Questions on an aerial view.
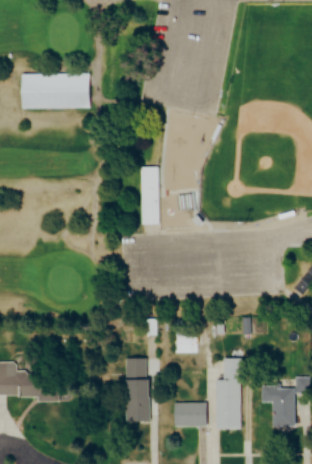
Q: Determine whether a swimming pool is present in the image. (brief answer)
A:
No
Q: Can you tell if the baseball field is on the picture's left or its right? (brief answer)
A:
right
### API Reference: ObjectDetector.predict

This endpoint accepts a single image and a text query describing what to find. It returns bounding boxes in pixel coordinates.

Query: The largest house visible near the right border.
[262,384,297,428]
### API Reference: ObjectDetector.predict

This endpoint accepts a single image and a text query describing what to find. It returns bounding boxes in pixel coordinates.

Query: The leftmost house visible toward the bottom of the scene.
[0,362,62,402]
